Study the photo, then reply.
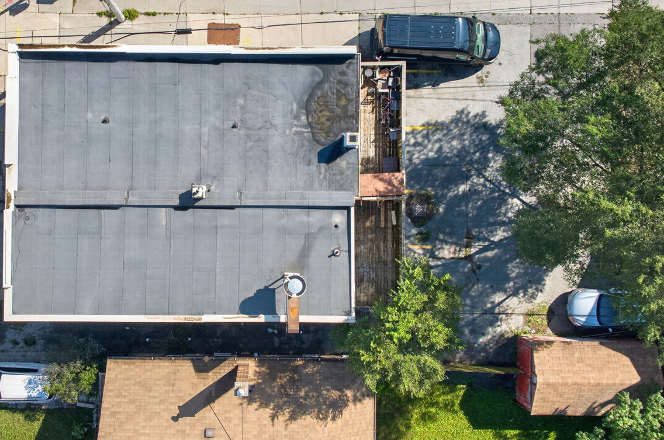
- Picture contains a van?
Yes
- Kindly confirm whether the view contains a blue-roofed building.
No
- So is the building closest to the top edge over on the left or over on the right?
left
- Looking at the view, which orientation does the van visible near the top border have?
from side to side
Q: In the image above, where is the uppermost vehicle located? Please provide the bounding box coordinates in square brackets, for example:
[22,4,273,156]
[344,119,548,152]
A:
[368,18,498,68]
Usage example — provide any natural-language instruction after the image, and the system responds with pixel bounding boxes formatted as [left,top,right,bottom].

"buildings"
[518,333,664,415]
[4,44,360,322]
[89,350,378,440]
